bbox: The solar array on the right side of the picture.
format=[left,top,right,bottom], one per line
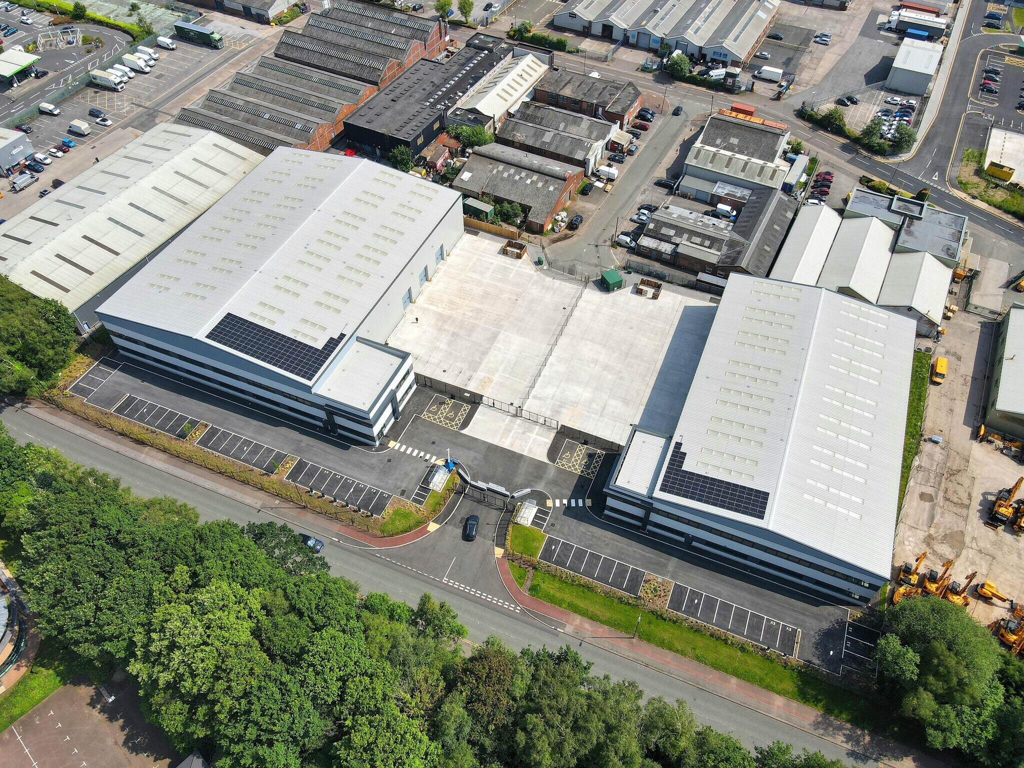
[660,441,773,519]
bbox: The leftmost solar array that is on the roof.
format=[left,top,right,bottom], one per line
[205,312,345,379]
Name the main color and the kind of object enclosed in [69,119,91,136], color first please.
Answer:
white vehicle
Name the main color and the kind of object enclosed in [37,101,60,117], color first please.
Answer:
white vehicle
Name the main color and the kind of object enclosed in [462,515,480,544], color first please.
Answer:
black car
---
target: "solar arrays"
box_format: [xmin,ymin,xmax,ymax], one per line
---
[205,312,345,379]
[660,441,773,519]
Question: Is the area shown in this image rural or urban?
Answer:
urban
